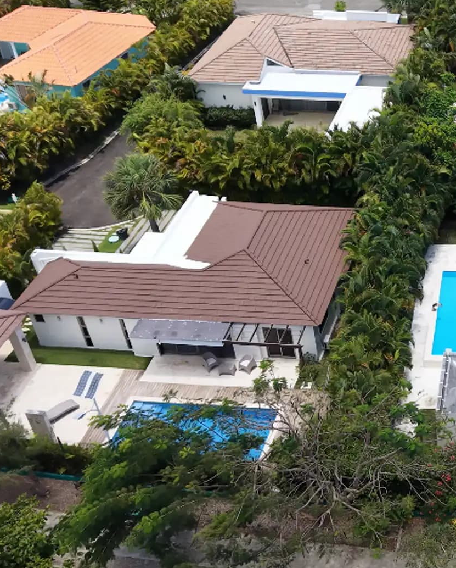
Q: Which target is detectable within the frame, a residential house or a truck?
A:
residential house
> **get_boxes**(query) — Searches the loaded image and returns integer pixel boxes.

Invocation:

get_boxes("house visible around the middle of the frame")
[10,187,356,386]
